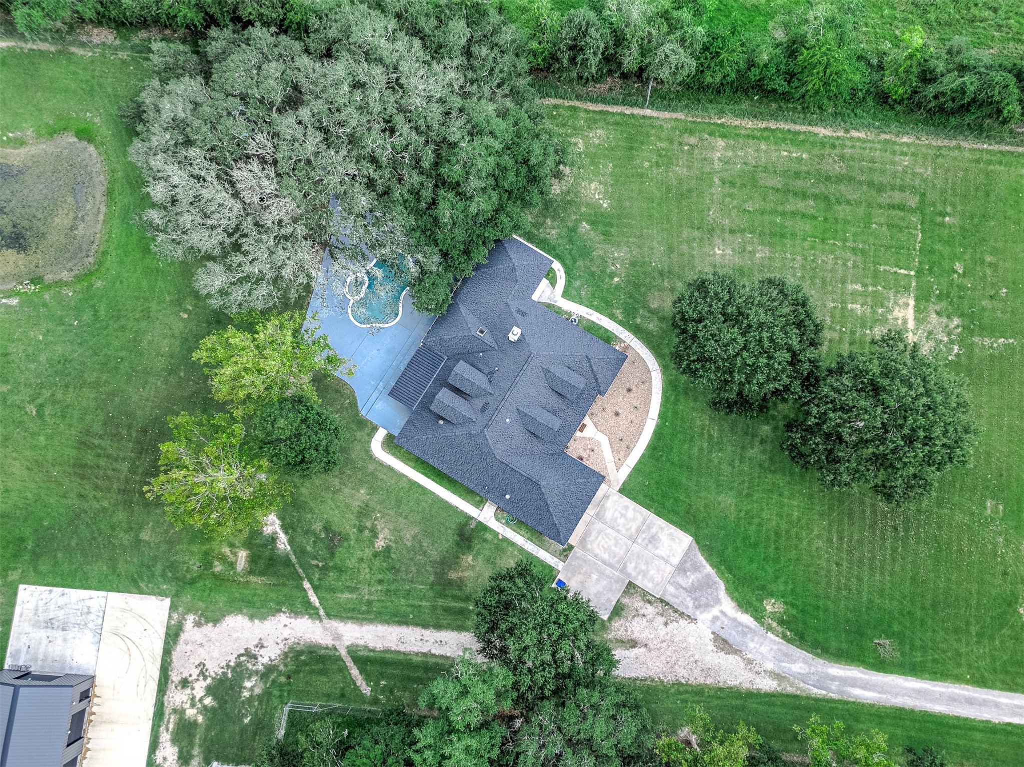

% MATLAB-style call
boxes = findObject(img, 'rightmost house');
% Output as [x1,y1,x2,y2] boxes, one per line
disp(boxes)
[387,237,630,548]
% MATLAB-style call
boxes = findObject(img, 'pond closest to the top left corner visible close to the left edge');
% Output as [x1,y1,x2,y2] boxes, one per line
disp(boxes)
[0,130,110,296]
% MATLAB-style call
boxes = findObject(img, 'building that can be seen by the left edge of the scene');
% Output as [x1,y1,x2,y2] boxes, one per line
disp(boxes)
[0,663,95,767]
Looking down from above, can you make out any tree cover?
Yes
